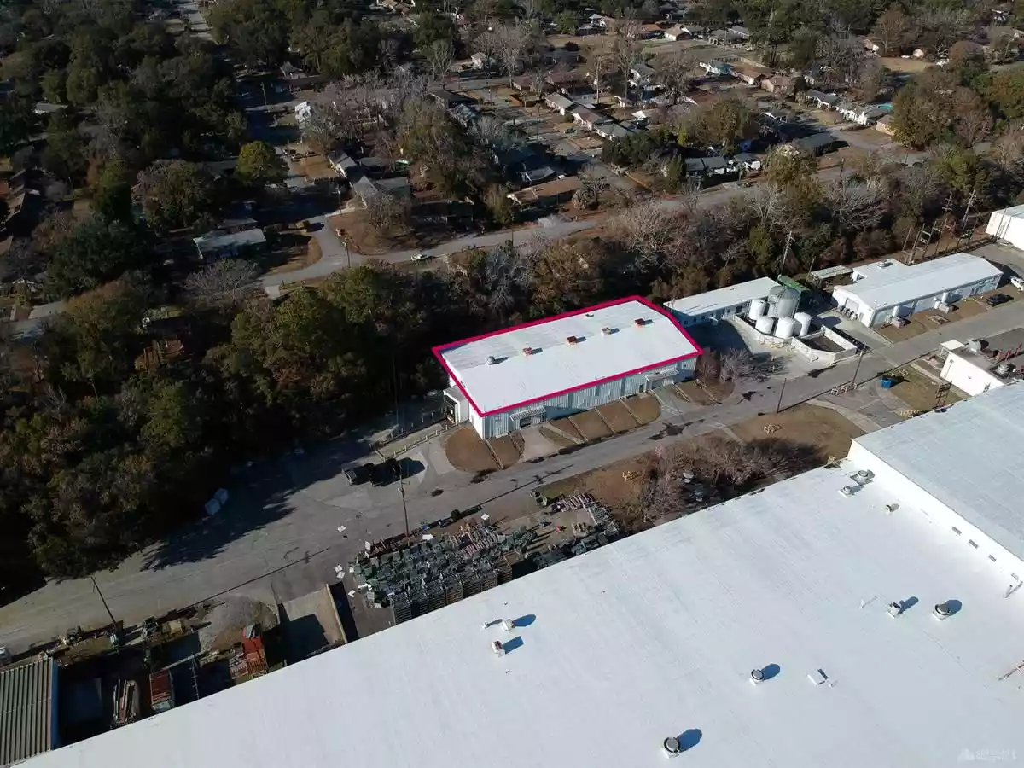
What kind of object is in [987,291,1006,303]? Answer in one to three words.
vehicle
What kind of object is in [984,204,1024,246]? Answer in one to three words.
building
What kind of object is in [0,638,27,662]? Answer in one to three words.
vehicle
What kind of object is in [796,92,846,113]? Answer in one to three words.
house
